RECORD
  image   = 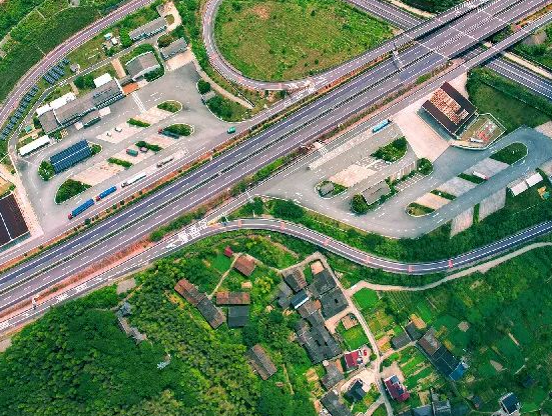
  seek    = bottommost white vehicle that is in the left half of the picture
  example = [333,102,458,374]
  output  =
[120,171,147,187]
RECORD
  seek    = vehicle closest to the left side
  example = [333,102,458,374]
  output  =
[65,199,95,218]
